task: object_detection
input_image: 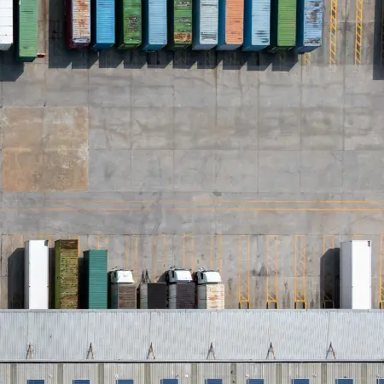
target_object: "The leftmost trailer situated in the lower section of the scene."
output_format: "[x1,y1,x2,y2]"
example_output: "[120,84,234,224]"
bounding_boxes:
[21,240,48,309]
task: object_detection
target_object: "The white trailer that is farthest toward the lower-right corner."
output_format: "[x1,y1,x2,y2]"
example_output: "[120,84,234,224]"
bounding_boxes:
[335,240,372,309]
